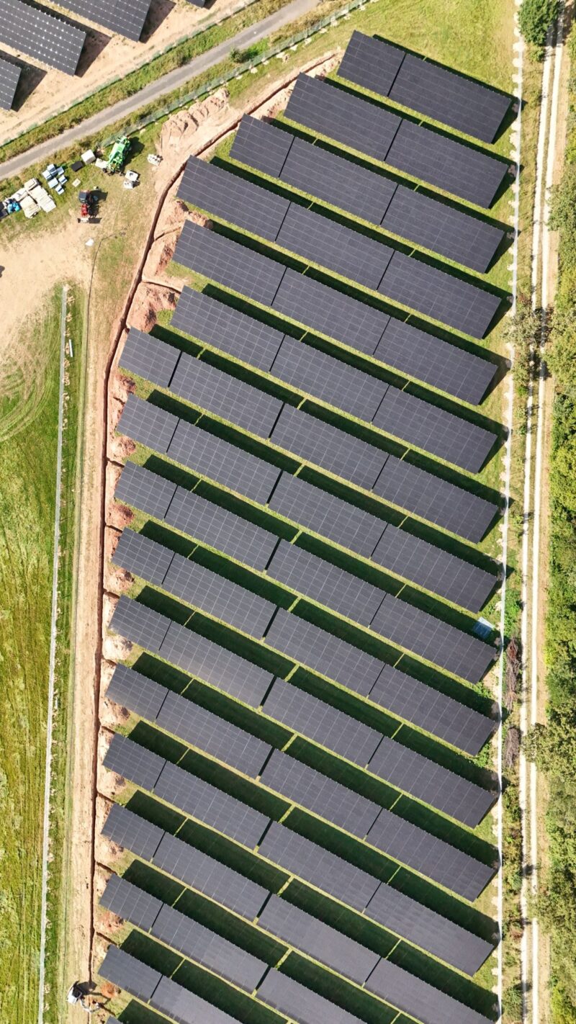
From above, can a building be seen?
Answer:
No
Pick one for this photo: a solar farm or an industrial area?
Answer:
solar farm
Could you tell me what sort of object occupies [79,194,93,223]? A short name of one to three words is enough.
work vehicle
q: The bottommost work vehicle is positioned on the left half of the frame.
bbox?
[64,979,103,1014]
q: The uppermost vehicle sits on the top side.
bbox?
[102,139,126,183]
